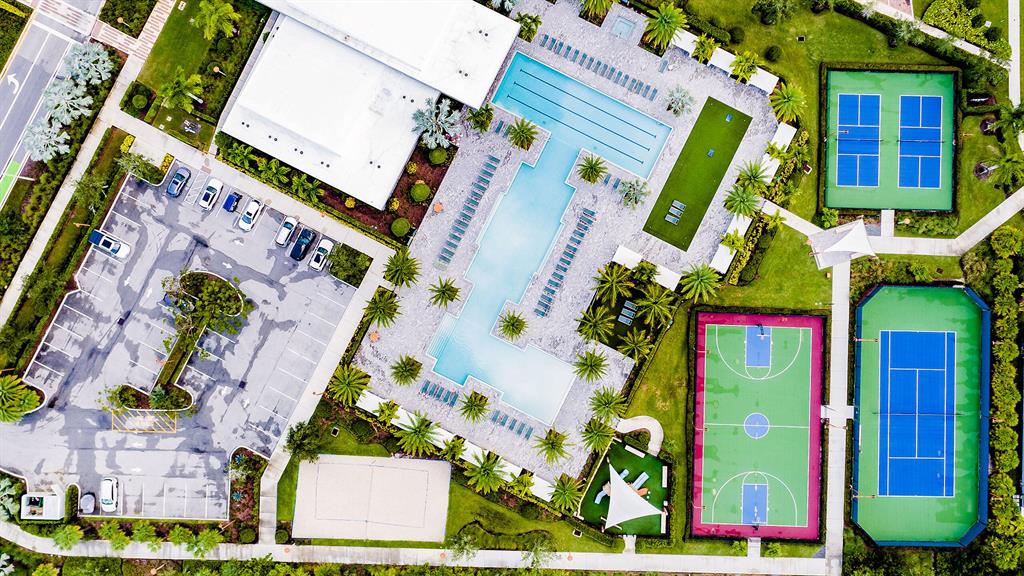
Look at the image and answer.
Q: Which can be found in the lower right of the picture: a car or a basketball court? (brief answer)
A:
basketball court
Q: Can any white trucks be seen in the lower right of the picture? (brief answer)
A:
No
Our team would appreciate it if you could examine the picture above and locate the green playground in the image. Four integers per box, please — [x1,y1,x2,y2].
[580,440,668,537]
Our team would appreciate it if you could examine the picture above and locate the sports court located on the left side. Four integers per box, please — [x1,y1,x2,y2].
[292,455,451,542]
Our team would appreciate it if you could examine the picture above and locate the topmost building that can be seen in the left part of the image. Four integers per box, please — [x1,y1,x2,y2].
[258,0,521,108]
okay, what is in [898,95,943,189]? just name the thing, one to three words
sports court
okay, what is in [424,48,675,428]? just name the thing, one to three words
swimming pool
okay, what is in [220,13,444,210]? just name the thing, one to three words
building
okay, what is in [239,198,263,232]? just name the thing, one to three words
car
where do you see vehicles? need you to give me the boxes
[290,228,316,262]
[80,493,98,513]
[199,177,224,211]
[101,477,118,512]
[167,166,191,200]
[88,230,132,258]
[309,239,334,272]
[223,194,242,212]
[239,198,263,232]
[274,215,299,248]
